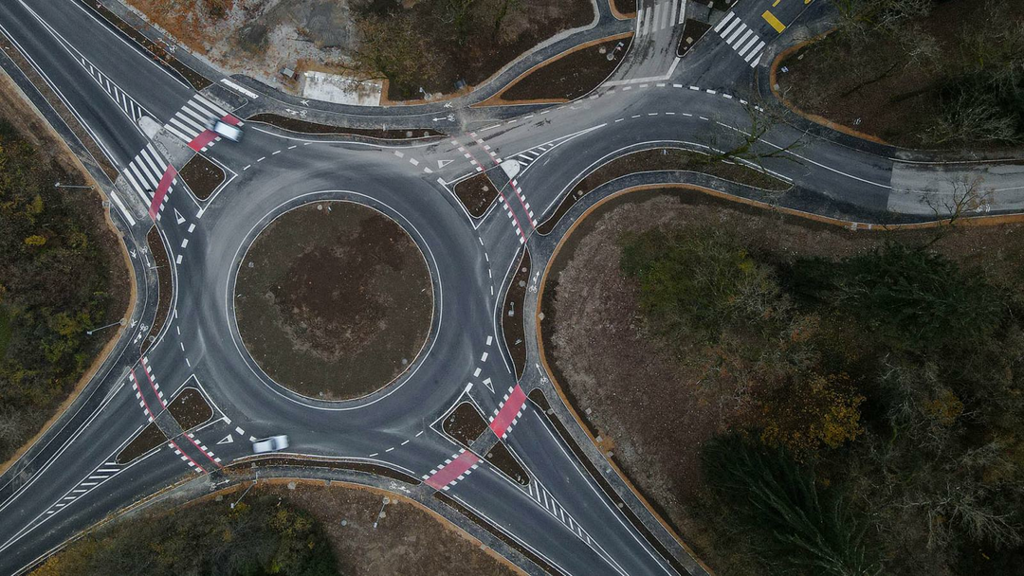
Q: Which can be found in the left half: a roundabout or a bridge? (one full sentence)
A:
What appears in the left half is a roundabout.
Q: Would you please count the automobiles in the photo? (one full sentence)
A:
In total, there are 2 automobiles in the scene.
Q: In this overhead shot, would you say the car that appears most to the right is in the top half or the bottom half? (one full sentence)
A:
The car that appears most to the right is in the bottom half of the image.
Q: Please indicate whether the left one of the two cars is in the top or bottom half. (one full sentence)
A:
The top half of the photo is where the left one of the two cars is.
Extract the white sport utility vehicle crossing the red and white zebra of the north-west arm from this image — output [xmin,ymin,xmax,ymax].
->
[207,116,247,144]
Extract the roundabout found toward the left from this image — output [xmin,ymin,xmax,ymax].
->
[173,140,495,455]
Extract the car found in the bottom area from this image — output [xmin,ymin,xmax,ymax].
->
[252,432,290,452]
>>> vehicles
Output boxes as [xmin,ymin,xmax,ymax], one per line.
[252,432,290,452]
[207,116,247,144]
